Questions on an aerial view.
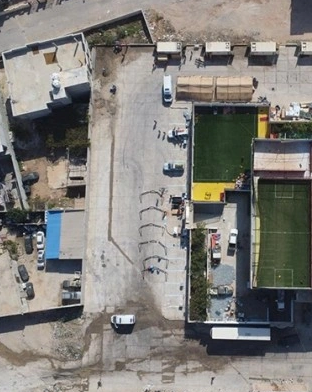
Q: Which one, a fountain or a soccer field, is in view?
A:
soccer field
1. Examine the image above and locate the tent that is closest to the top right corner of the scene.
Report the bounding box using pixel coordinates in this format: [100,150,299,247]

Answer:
[216,76,252,101]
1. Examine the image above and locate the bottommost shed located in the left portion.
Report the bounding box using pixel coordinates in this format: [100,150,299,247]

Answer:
[45,209,85,259]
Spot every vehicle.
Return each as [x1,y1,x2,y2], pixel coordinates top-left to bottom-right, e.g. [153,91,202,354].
[111,314,135,325]
[210,231,221,263]
[35,230,45,250]
[25,281,35,300]
[23,181,31,195]
[167,129,189,139]
[60,279,74,288]
[61,291,82,301]
[17,263,30,283]
[162,162,184,172]
[22,172,41,182]
[23,235,33,254]
[162,75,172,103]
[35,250,45,268]
[227,227,237,251]
[210,325,271,341]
